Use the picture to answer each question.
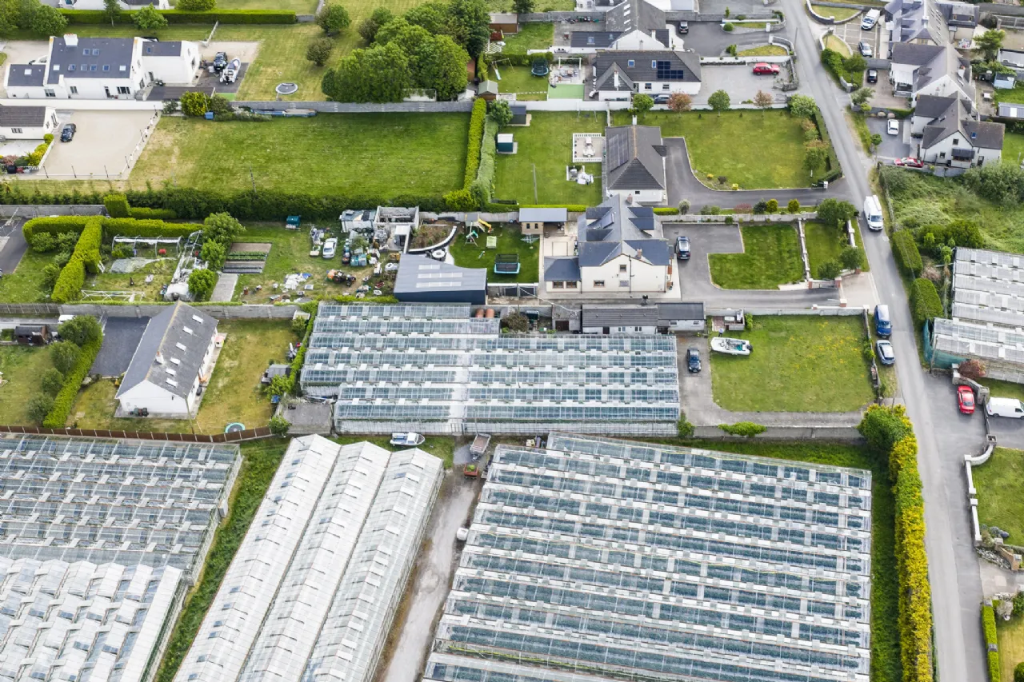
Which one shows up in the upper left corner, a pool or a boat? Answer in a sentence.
You can see a boat in the upper left corner.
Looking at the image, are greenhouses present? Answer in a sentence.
Yes, there's a greenhouse down there.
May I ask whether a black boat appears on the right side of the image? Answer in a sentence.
No, I can find no black boat on the right side of the image.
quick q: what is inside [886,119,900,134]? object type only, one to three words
car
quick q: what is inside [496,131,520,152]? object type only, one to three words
shed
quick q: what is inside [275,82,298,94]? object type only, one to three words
trampoline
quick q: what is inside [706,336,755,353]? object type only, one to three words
boat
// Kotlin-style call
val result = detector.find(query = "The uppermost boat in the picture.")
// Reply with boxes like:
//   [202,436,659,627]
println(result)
[222,58,238,81]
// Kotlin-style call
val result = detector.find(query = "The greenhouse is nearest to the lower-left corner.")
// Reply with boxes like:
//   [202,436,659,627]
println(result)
[0,551,188,682]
